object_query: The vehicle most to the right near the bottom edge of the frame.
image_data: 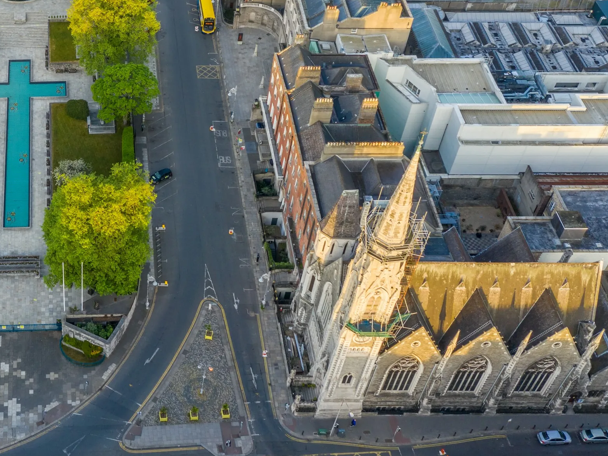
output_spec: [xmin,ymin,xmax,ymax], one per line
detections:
[579,428,608,445]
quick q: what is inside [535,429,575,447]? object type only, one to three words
car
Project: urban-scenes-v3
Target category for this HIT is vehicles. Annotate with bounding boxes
[535,429,575,447]
[197,0,217,36]
[579,428,608,445]
[150,168,175,184]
